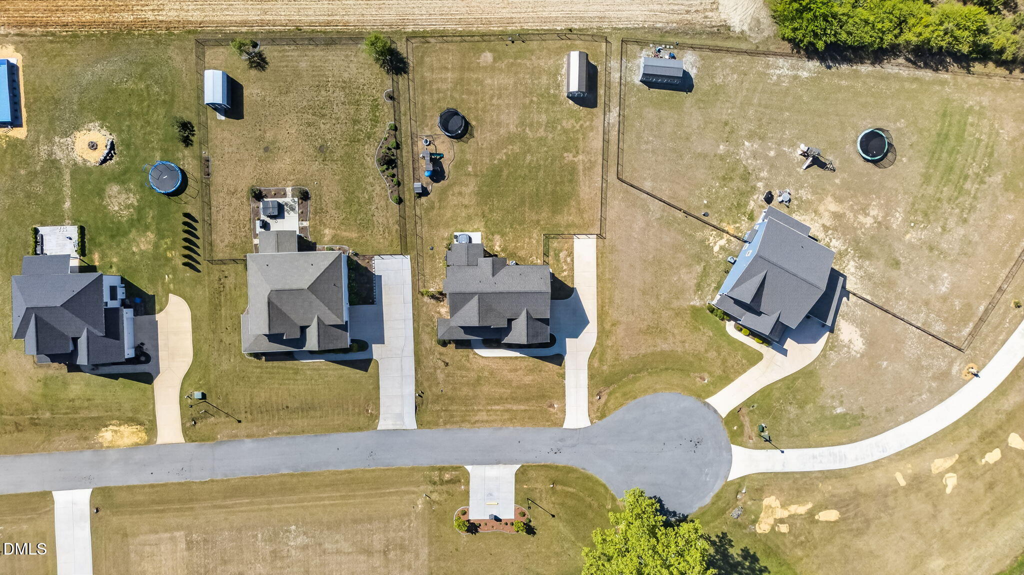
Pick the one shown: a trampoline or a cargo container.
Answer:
trampoline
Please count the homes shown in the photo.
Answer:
4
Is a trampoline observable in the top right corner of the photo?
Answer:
Yes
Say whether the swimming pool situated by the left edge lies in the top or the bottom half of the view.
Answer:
top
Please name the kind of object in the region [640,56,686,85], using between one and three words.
shed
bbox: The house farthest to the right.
[712,206,844,343]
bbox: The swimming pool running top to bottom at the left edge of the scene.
[0,59,22,130]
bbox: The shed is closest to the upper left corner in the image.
[205,69,232,120]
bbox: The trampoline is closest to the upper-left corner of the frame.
[141,158,185,195]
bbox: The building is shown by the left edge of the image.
[12,254,134,366]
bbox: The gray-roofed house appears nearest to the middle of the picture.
[438,243,551,345]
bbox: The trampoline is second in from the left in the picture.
[438,106,468,138]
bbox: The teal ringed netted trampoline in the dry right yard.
[855,126,897,163]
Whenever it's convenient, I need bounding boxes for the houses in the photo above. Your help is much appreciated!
[438,243,551,345]
[12,254,134,366]
[712,206,844,343]
[241,230,352,353]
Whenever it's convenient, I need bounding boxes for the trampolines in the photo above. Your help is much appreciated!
[141,158,185,195]
[855,126,897,163]
[438,106,468,138]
